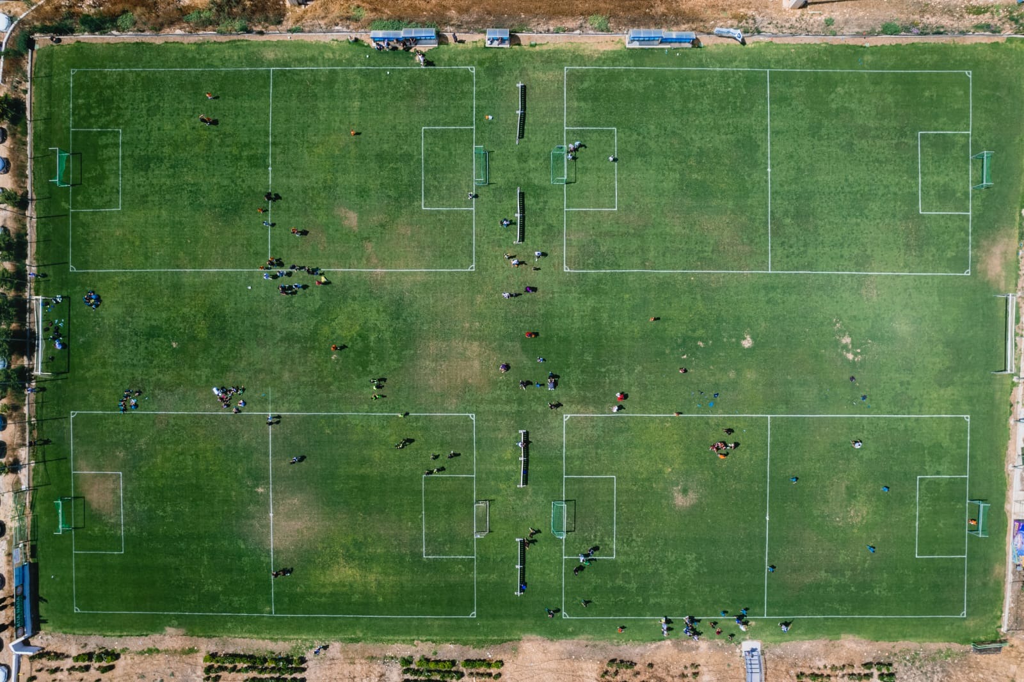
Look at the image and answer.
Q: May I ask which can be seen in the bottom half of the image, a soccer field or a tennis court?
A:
soccer field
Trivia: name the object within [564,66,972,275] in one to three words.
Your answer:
soccer field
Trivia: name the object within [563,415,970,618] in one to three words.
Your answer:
soccer field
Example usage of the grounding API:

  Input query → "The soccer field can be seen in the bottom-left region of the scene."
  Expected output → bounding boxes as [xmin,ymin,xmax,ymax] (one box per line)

[72,395,475,618]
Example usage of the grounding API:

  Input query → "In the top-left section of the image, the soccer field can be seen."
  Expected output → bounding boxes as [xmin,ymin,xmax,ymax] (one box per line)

[69,67,475,270]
